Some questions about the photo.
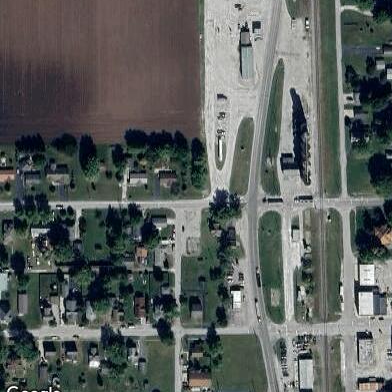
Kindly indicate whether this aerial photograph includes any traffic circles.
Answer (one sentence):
No, no traffic circle can be seen from above.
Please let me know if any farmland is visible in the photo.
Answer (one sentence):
Yes, there's farmland in this view.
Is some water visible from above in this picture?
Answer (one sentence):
No, the scene doesn't show any water.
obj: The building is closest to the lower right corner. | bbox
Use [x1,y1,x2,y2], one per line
[361,377,383,392]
